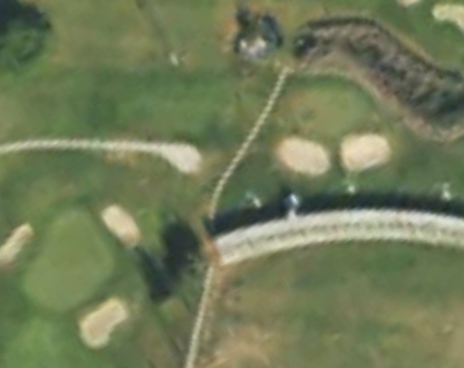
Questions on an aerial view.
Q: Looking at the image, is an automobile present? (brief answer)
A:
No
